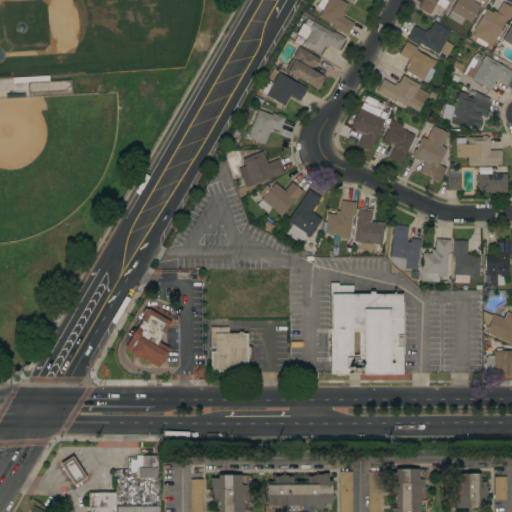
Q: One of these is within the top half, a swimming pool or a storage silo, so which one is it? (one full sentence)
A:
Looking within the top half, you will find a swimming pool.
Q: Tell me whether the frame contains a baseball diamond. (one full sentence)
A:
Yes, looking at the shot, I can spot a baseball diamond.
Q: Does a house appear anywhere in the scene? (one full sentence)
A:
Yes, there is a house in the image.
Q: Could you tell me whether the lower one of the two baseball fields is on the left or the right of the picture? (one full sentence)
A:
You can find the lower one of the two baseball fields on the left side of the picture.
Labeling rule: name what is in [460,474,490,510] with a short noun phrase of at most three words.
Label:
building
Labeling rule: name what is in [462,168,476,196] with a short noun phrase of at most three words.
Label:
swimming pool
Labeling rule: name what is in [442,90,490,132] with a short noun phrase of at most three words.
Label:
house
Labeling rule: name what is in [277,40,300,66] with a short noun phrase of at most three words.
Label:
swimming pool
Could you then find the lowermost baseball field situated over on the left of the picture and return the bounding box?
[0,91,118,244]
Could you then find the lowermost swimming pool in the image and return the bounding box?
[485,290,508,314]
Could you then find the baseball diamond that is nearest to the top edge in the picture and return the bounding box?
[0,0,206,77]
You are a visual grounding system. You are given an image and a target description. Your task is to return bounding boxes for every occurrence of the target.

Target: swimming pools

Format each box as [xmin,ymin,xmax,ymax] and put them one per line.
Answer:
[462,168,476,196]
[485,290,508,314]
[496,42,512,66]
[277,40,300,66]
